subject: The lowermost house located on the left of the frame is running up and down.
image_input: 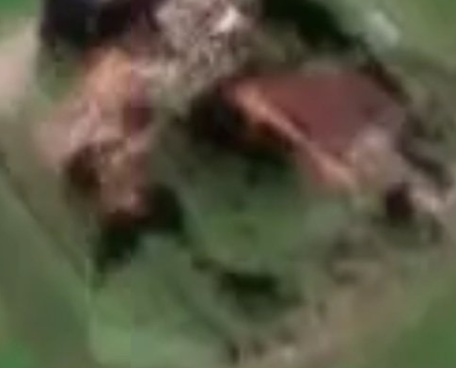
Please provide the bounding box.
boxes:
[85,52,161,217]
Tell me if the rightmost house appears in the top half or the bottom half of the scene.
top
